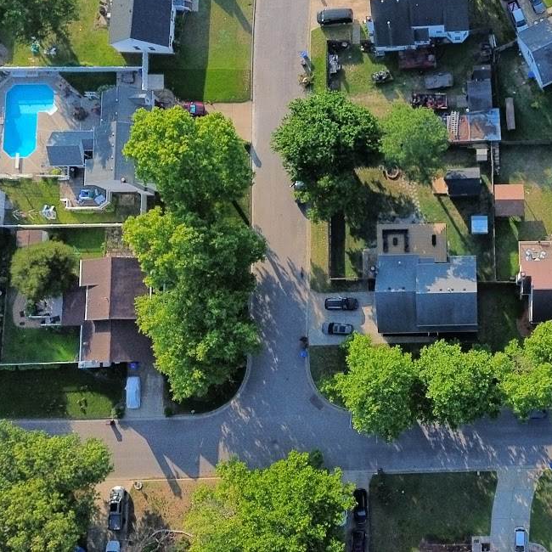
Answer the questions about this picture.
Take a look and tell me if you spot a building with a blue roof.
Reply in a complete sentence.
Yes, there's a building with a blue roof here.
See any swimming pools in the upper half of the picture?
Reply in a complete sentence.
Yes, a swimming pool is visible in the upper half of the picture.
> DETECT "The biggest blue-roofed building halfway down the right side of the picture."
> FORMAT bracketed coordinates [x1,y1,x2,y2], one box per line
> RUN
[374,223,478,334]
